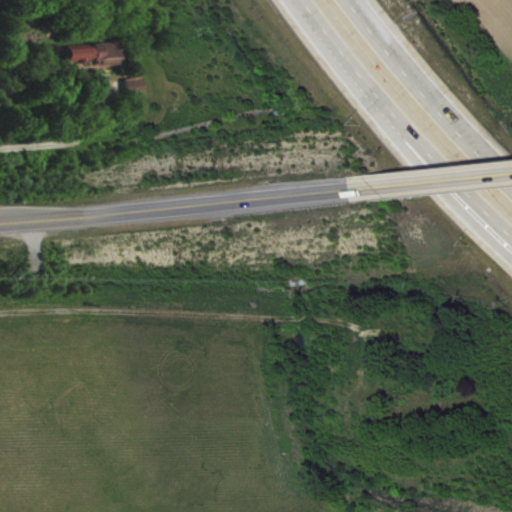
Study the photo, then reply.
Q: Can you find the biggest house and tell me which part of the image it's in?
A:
top left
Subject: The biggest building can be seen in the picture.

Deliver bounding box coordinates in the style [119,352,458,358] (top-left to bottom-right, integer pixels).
[70,42,123,72]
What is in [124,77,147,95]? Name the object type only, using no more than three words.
building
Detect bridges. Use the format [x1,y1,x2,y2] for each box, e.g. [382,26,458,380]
[348,161,512,202]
